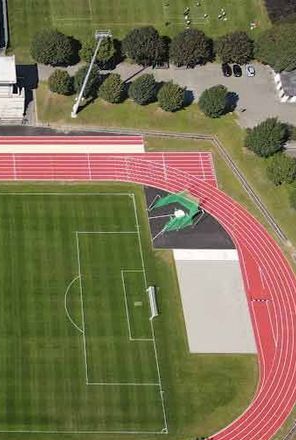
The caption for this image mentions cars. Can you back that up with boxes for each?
[232,64,242,78]
[220,64,231,78]
[245,65,256,79]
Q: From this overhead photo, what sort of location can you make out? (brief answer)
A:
sports ground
